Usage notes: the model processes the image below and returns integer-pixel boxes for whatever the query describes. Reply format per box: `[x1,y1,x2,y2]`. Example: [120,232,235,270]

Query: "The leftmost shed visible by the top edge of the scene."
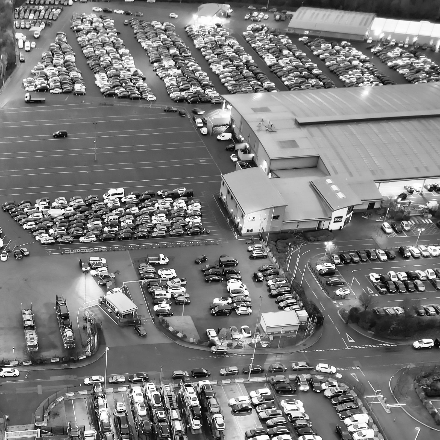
[196,3,236,24]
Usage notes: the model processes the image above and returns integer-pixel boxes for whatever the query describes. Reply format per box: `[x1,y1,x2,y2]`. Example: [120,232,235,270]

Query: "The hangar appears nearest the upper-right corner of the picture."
[289,2,371,40]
